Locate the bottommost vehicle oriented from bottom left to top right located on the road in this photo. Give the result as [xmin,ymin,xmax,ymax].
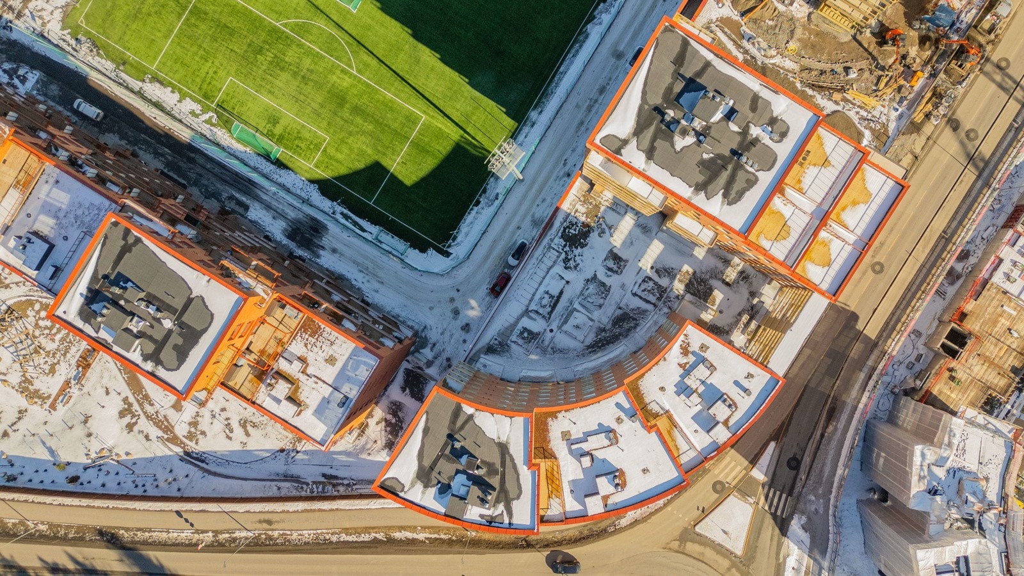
[490,271,512,299]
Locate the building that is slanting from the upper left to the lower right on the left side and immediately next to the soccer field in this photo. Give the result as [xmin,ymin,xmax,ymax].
[0,97,420,451]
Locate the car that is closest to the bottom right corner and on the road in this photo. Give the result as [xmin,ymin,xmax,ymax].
[552,558,582,575]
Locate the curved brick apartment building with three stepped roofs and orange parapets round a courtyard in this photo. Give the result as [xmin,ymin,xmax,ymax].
[371,307,786,534]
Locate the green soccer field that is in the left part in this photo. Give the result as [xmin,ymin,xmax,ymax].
[56,0,611,257]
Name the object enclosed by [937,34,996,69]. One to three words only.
work vehicle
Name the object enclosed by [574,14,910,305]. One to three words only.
building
